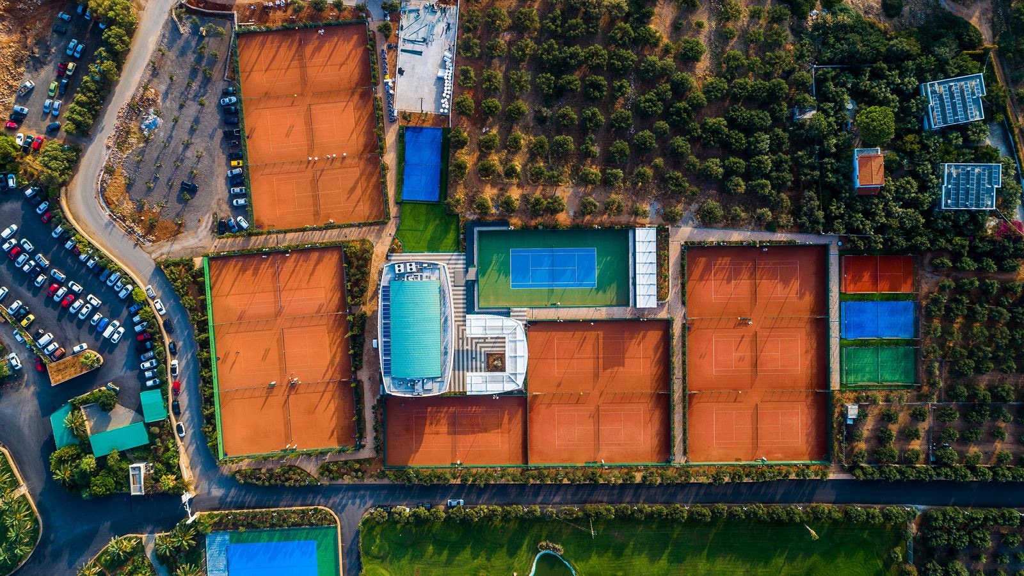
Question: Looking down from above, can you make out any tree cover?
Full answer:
Yes, the picture does contain tree cover.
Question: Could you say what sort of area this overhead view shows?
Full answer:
This looks like a sports ground.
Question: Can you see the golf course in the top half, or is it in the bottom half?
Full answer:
The golf course is in the bottom half of the image.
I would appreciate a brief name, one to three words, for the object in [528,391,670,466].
tennis court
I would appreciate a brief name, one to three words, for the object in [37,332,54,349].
vehicle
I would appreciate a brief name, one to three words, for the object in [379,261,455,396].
building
